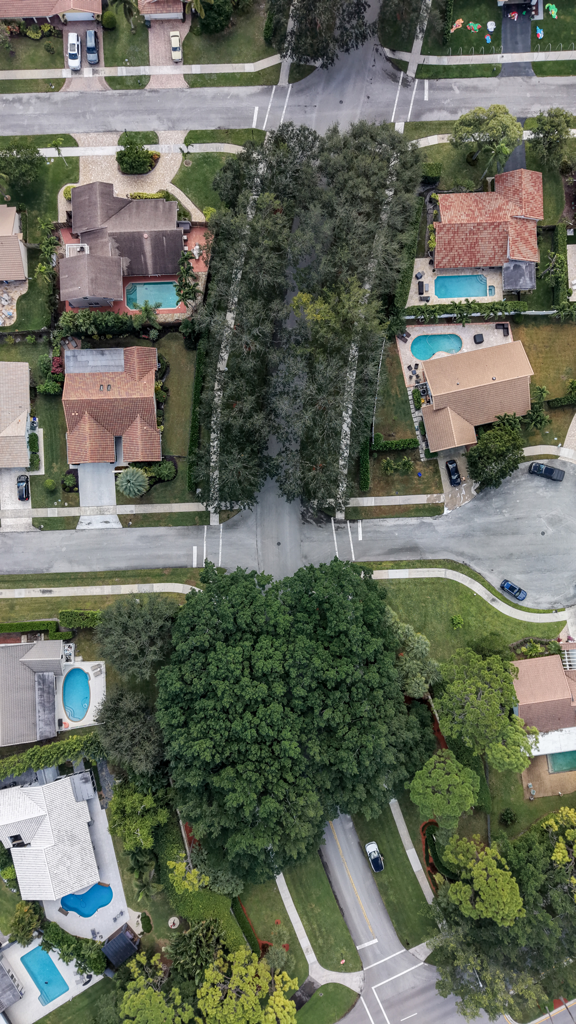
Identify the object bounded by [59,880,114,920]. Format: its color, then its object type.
blue swimming pool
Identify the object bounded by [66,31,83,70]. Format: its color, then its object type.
white car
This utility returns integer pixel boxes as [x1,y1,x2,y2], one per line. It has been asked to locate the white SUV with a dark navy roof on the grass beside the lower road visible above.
[365,839,384,876]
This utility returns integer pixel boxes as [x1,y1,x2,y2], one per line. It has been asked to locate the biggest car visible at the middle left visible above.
[15,474,31,501]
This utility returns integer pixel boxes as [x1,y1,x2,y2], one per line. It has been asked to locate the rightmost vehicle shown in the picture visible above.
[527,462,566,482]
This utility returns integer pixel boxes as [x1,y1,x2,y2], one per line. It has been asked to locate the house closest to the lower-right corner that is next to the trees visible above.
[508,640,576,761]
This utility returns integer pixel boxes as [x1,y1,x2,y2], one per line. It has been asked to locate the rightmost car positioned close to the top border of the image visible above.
[169,31,183,63]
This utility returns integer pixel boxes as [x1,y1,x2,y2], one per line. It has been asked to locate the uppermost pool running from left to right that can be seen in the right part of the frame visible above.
[433,273,488,299]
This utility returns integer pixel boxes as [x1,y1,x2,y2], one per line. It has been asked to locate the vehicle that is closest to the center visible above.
[445,458,462,488]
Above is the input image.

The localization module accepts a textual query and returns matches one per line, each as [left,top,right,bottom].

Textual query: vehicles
[84,28,100,64]
[365,839,384,876]
[66,31,83,70]
[169,31,183,63]
[497,578,529,602]
[445,458,462,488]
[15,474,31,501]
[527,462,566,482]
